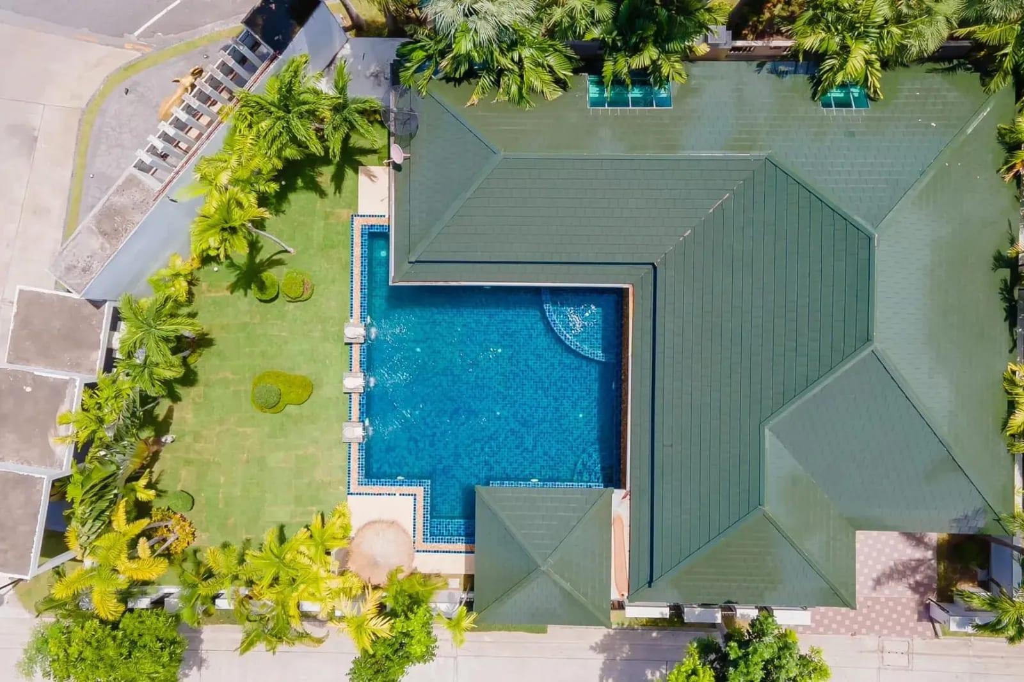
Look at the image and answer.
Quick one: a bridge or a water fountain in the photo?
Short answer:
water fountain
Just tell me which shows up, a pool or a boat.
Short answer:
pool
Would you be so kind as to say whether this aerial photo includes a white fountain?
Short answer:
Yes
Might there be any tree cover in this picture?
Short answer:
Yes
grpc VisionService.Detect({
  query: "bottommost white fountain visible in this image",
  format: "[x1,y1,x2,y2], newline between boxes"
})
[341,422,379,442]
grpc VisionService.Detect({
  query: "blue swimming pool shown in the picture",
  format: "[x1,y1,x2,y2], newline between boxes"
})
[347,214,622,554]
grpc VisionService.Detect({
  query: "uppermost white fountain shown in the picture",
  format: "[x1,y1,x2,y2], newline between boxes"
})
[343,324,378,344]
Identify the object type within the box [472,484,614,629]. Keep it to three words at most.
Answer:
building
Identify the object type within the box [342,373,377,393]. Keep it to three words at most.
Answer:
fountain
